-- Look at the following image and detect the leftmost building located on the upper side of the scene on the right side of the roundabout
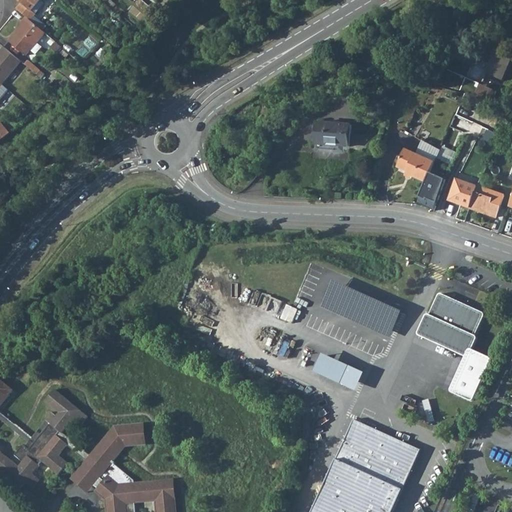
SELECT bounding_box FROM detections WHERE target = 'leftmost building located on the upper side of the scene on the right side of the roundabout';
[303,120,349,147]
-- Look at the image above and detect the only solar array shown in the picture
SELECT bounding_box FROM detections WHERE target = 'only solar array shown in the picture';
[322,280,400,336]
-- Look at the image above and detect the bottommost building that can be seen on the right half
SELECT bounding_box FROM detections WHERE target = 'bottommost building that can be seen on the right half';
[311,420,421,512]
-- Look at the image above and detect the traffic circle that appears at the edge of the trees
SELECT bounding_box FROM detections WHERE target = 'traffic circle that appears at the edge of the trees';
[124,107,208,190]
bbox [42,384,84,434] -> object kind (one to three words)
house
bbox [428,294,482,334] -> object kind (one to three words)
building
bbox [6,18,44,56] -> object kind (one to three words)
house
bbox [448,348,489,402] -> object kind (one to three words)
building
